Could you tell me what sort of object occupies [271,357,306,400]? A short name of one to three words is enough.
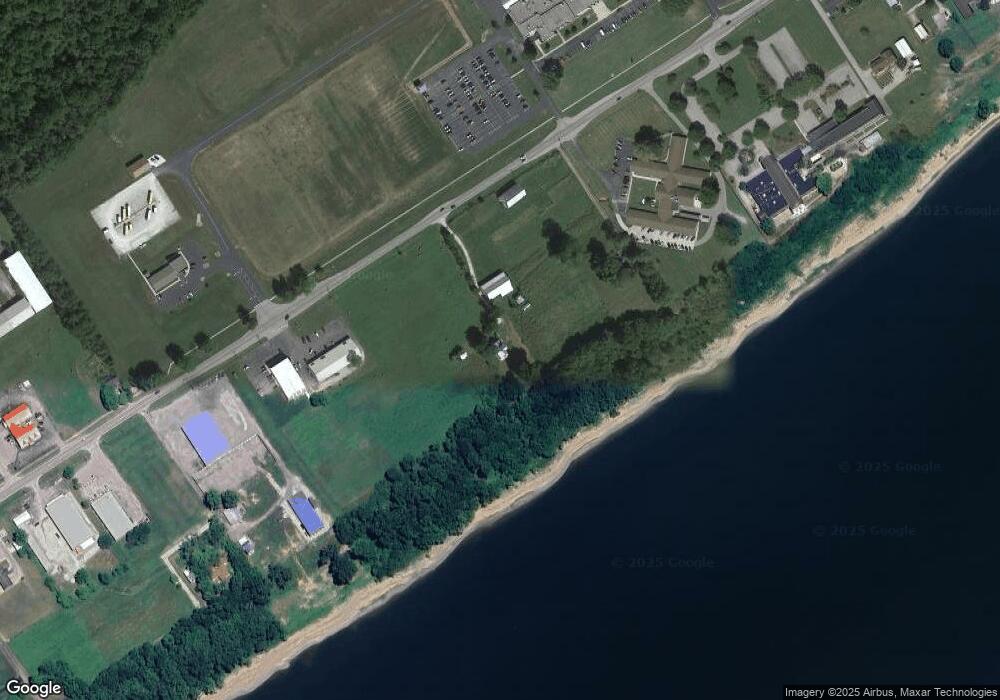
building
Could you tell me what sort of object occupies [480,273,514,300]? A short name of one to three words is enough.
barn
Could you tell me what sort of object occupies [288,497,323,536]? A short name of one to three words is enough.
house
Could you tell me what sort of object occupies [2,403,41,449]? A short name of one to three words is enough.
house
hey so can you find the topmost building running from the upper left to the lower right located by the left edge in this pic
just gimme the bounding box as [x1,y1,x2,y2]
[3,251,52,312]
